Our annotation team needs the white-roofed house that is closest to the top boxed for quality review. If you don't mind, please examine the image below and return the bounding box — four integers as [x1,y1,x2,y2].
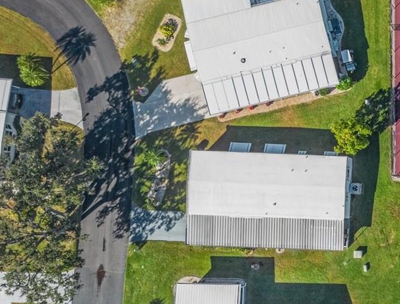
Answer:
[181,0,340,115]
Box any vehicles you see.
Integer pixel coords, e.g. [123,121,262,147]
[4,95,24,111]
[338,45,358,73]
